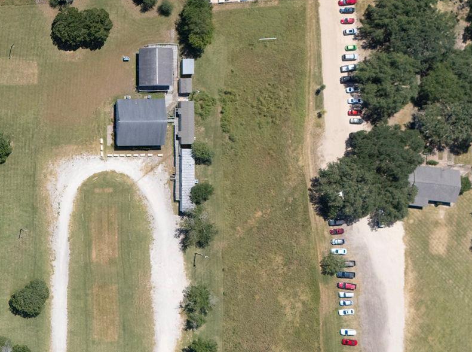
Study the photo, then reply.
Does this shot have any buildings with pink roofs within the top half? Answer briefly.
No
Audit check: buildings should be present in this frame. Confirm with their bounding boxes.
[179,148,195,212]
[177,78,191,93]
[180,59,194,74]
[114,99,168,145]
[407,169,462,205]
[136,47,173,86]
[178,102,194,145]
